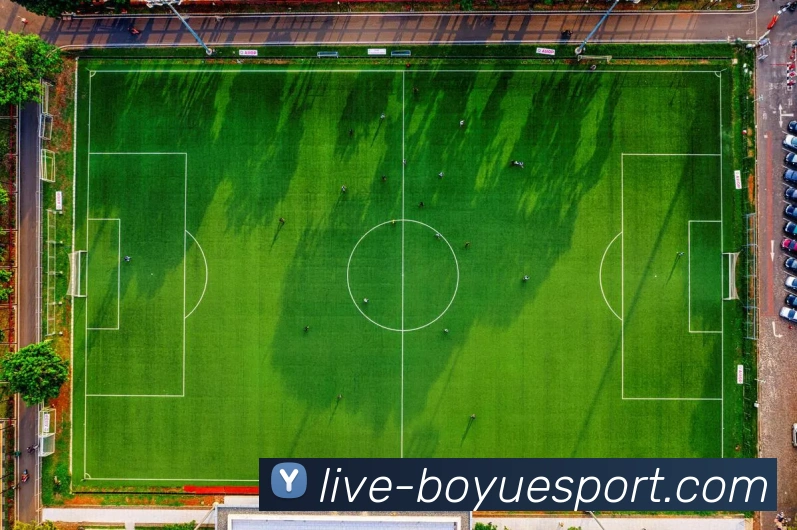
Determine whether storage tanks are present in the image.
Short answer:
No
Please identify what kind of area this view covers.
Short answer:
sports ground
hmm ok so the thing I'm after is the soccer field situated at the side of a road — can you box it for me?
[73,58,740,493]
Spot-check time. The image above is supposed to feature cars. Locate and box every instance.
[783,204,797,218]
[782,187,797,202]
[778,307,797,324]
[783,276,797,290]
[781,170,797,184]
[786,119,797,132]
[782,257,797,271]
[781,136,797,151]
[778,238,797,254]
[783,293,797,307]
[782,221,797,235]
[782,153,797,167]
